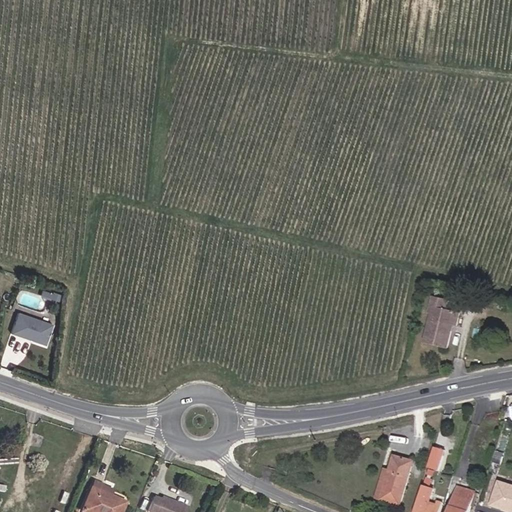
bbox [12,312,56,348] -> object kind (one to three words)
house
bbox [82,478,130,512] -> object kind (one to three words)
house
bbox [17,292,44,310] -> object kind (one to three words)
swimming pool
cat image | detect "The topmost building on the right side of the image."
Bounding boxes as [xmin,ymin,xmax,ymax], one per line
[422,296,459,348]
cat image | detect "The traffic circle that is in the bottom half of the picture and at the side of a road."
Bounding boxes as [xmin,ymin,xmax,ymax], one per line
[146,382,257,466]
